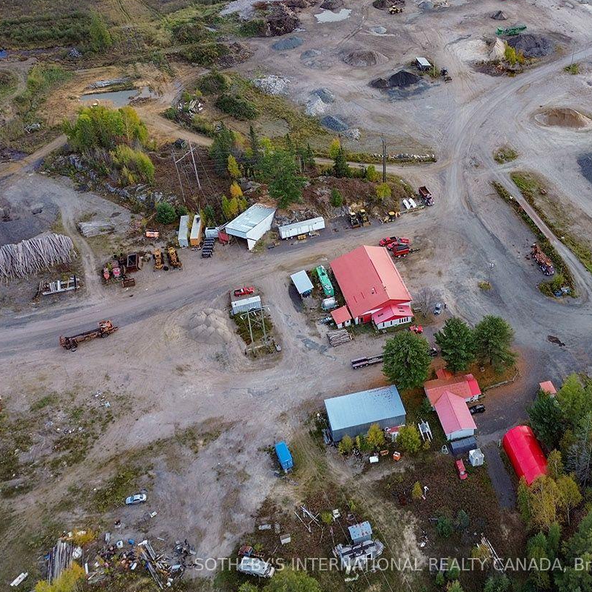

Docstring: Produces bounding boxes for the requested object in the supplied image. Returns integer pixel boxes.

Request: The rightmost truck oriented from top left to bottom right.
[532,242,554,270]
